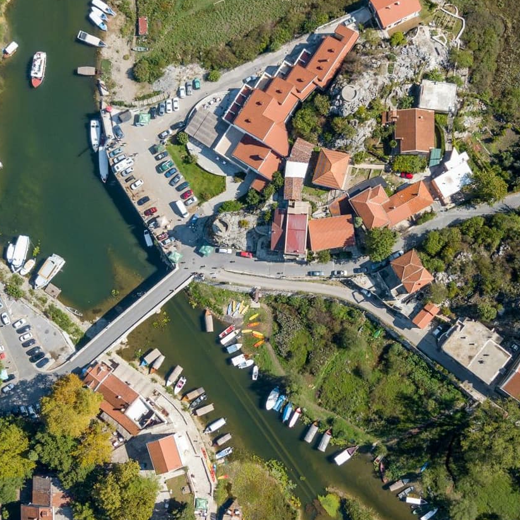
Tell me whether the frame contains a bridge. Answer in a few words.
Yes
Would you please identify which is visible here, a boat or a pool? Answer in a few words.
boat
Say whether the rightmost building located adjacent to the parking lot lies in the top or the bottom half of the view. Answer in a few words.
bottom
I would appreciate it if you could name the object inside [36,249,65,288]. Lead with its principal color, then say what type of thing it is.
white boat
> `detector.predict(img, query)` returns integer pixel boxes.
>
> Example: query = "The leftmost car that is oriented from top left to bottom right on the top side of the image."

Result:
[110,122,124,139]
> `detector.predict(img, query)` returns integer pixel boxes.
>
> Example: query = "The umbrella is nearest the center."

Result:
[198,242,213,257]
